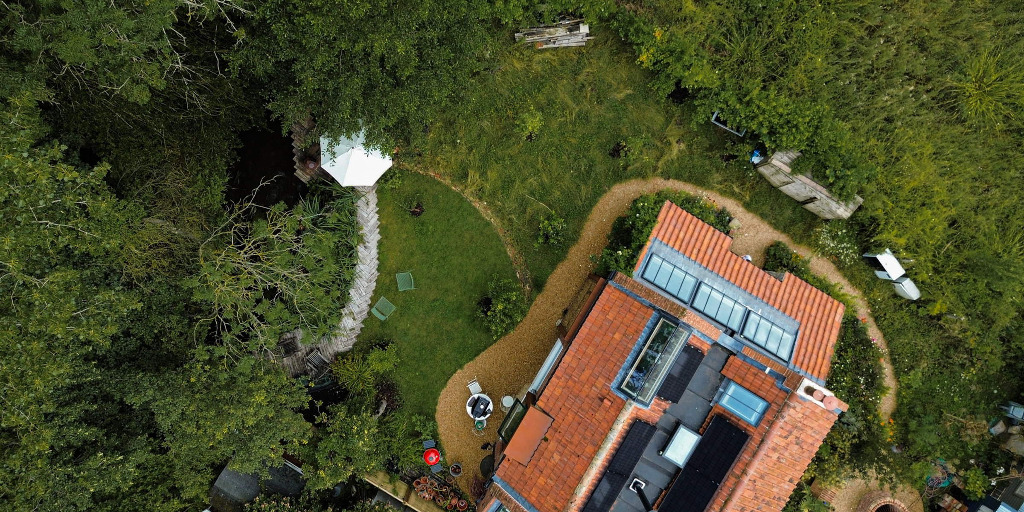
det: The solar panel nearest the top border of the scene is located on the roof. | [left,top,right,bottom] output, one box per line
[659,344,707,405]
